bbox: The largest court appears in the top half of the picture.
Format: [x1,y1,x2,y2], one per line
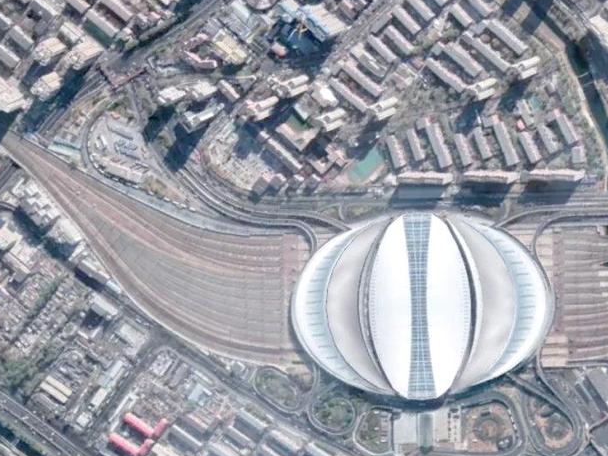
[349,150,385,181]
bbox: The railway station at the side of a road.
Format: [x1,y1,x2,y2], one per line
[291,211,556,399]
